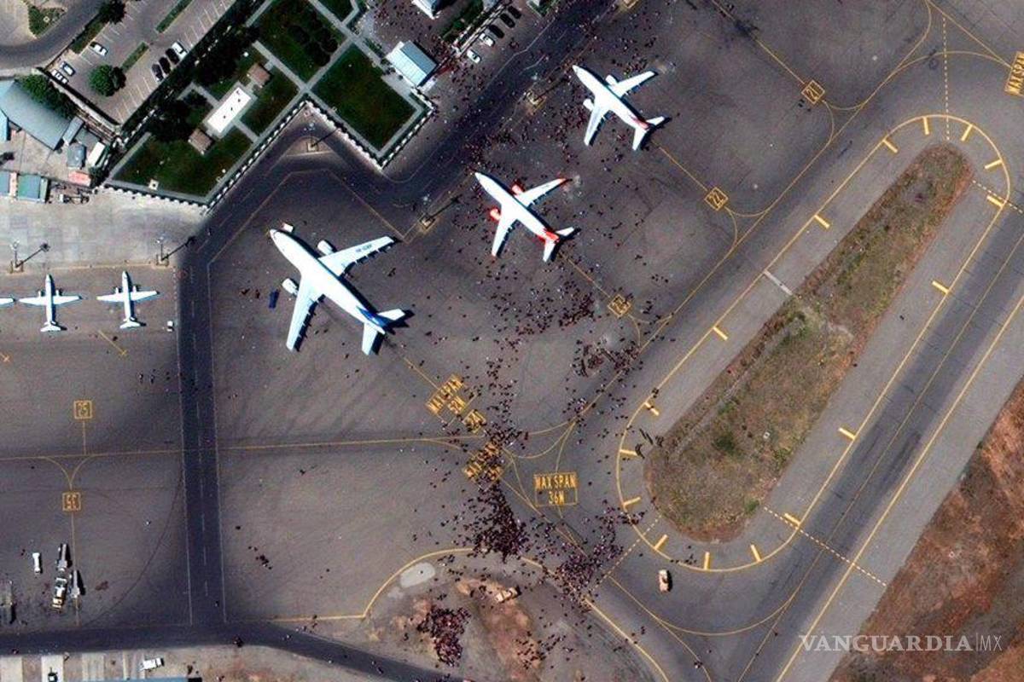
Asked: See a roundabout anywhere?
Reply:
No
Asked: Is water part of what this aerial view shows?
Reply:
No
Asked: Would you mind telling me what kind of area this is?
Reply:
airport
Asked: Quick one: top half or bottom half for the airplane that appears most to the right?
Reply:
top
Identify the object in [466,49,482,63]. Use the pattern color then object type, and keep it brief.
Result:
white car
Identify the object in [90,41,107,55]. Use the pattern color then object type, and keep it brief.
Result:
white car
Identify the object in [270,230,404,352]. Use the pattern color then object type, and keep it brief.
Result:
white airplane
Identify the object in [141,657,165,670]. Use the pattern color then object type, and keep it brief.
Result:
white vehicle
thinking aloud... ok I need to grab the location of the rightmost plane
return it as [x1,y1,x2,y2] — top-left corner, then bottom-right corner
[573,66,666,149]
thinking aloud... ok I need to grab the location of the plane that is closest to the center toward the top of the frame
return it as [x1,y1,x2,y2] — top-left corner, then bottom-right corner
[475,173,575,261]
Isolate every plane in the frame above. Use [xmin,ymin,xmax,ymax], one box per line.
[270,230,404,352]
[475,173,575,261]
[19,275,81,331]
[0,300,14,306]
[573,66,666,149]
[97,273,159,329]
